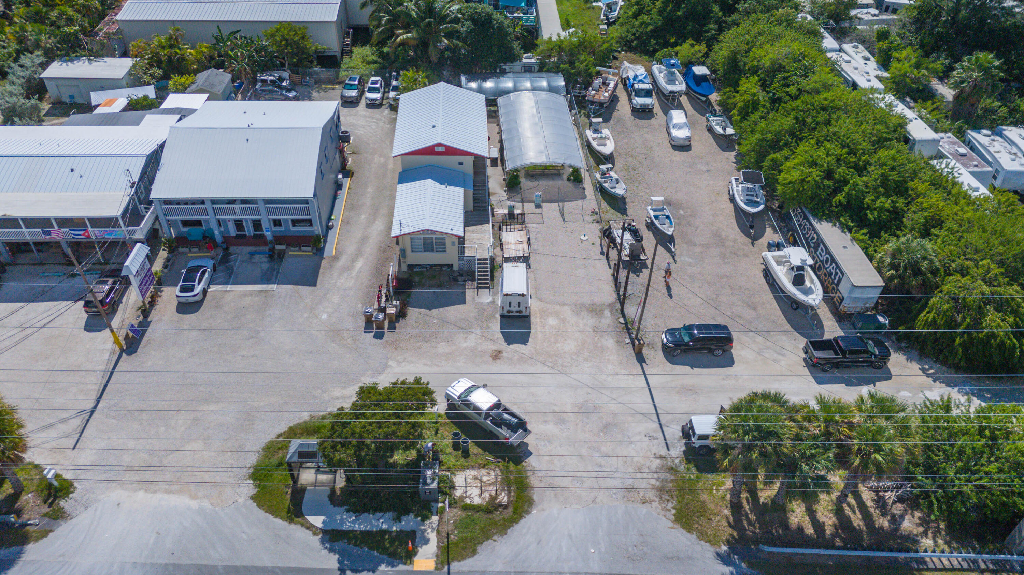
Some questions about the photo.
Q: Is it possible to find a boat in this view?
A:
Yes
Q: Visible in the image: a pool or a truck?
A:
truck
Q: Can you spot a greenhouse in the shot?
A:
Yes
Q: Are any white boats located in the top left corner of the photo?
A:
No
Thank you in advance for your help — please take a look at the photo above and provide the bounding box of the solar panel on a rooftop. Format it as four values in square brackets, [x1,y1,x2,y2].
[295,447,323,463]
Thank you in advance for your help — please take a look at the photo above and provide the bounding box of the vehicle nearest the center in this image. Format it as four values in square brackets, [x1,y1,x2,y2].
[497,269,534,318]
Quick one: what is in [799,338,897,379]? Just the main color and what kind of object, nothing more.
black truck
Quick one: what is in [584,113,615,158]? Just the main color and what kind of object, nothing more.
white boat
